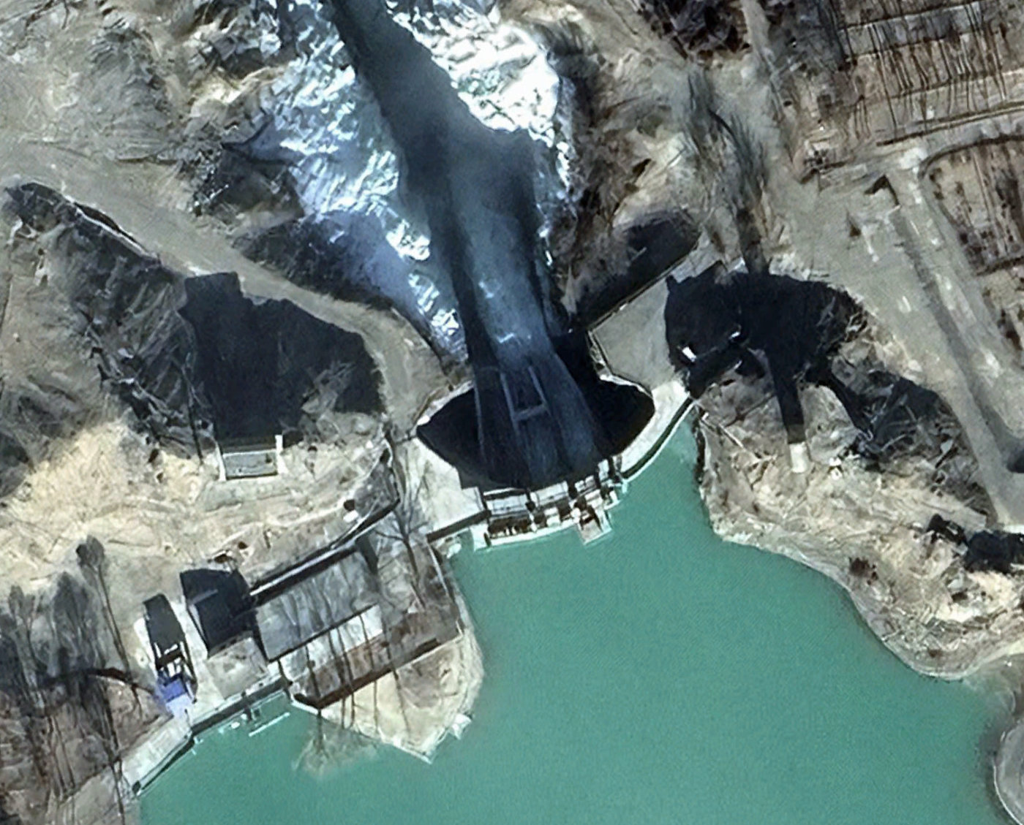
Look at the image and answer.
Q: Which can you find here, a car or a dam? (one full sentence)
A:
The one in the frame is a dam.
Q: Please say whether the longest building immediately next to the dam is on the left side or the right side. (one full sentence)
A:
It is on the left.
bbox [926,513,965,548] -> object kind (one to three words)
shed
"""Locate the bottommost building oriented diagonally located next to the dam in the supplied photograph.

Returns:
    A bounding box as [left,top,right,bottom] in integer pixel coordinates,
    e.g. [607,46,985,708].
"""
[258,537,380,665]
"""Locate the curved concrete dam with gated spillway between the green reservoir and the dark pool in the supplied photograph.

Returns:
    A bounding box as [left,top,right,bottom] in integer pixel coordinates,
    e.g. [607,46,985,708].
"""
[406,219,693,548]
